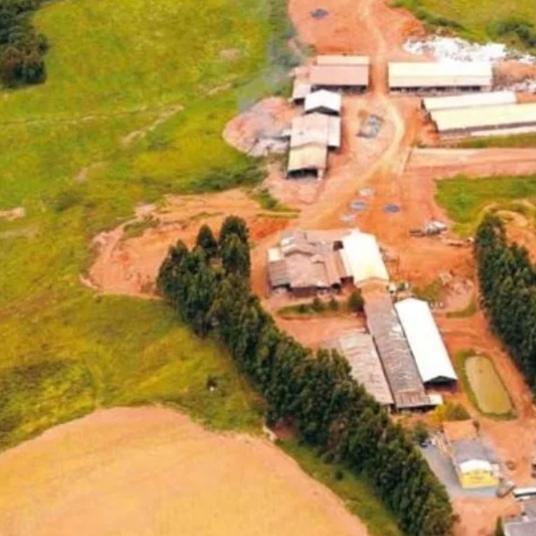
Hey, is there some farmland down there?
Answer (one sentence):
Yes, there's farmland in this view.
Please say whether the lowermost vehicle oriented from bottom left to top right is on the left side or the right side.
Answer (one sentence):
It is on the right.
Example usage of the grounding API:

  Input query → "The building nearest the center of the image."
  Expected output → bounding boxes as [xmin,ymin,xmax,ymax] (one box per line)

[268,231,351,298]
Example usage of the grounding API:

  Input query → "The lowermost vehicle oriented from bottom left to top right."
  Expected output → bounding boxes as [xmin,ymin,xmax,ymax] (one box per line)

[496,477,516,498]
